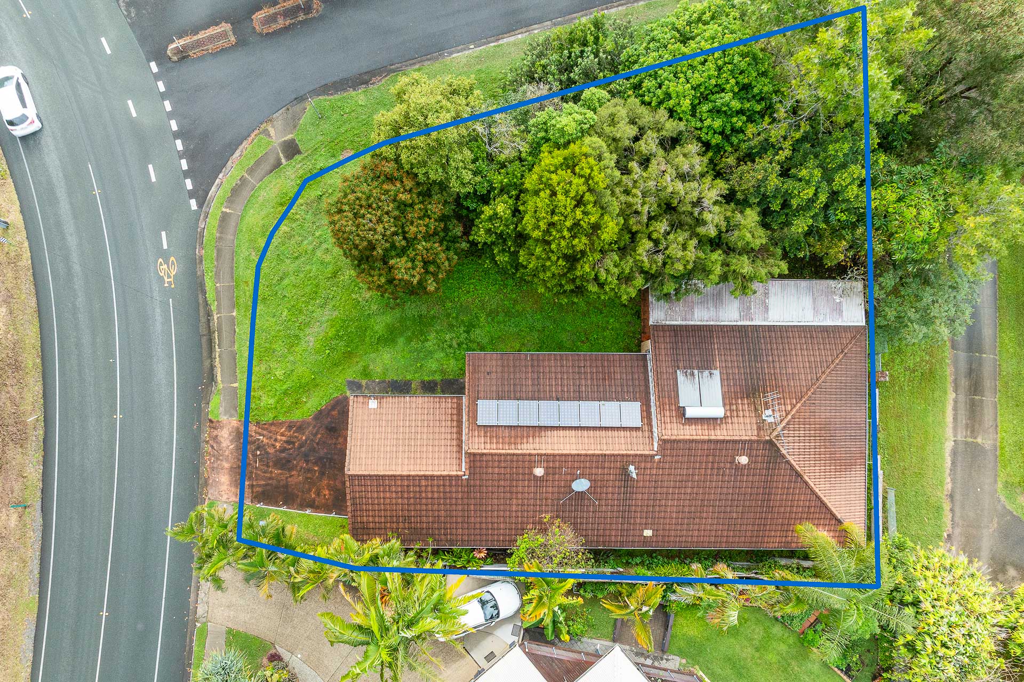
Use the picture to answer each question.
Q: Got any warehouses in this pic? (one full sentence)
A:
No, no warehouse is visible in the view.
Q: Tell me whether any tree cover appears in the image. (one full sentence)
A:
Yes, some tree cover is visible.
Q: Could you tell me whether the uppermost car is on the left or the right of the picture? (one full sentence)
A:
You can find the uppermost car on the left side of the picture.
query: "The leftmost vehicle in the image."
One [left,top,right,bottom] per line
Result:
[0,60,43,132]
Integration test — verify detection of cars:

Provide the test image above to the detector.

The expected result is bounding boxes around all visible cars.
[446,581,523,645]
[0,60,43,132]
